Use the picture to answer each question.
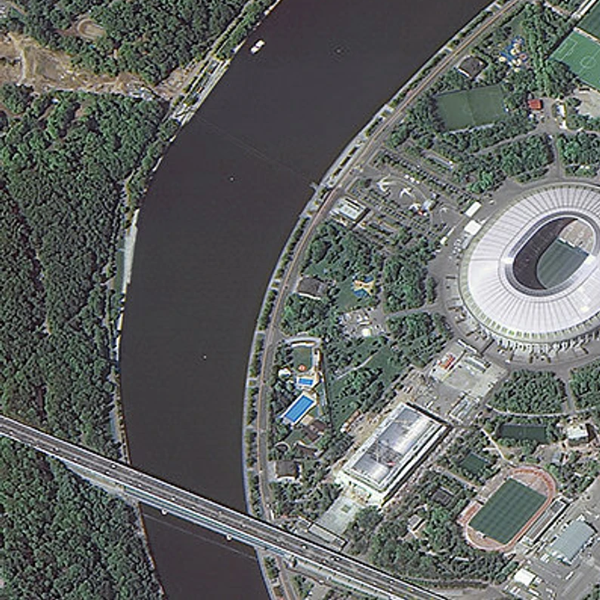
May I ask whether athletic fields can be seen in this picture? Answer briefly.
Yes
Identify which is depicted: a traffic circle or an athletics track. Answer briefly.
athletics track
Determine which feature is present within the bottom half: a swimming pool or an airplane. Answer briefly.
swimming pool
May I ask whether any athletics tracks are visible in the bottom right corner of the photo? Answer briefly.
Yes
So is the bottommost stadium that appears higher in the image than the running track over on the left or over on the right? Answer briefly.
right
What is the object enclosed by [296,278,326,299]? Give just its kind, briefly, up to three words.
building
